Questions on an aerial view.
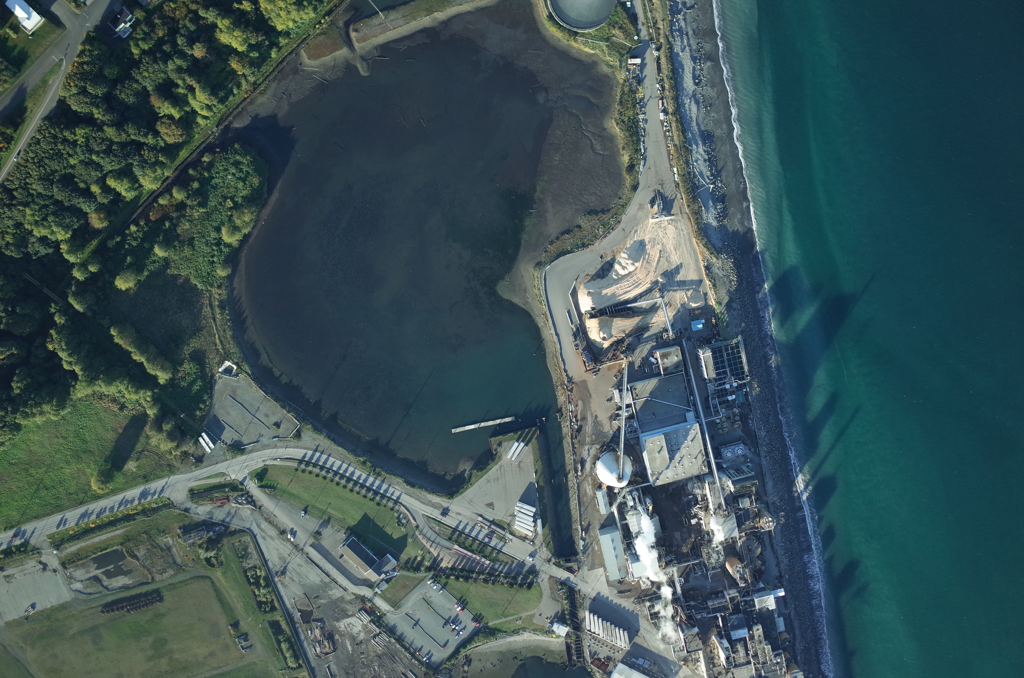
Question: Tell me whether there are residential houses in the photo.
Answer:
Yes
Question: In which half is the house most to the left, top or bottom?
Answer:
top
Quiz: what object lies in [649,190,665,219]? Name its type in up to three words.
vehicle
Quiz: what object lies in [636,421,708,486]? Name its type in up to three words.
building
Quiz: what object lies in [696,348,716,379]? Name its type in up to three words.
house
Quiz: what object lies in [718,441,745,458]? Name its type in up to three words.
cooling tower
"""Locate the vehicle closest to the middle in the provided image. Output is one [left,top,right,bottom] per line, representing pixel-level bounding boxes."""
[575,338,594,371]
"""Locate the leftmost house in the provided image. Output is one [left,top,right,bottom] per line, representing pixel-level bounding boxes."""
[6,0,48,35]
